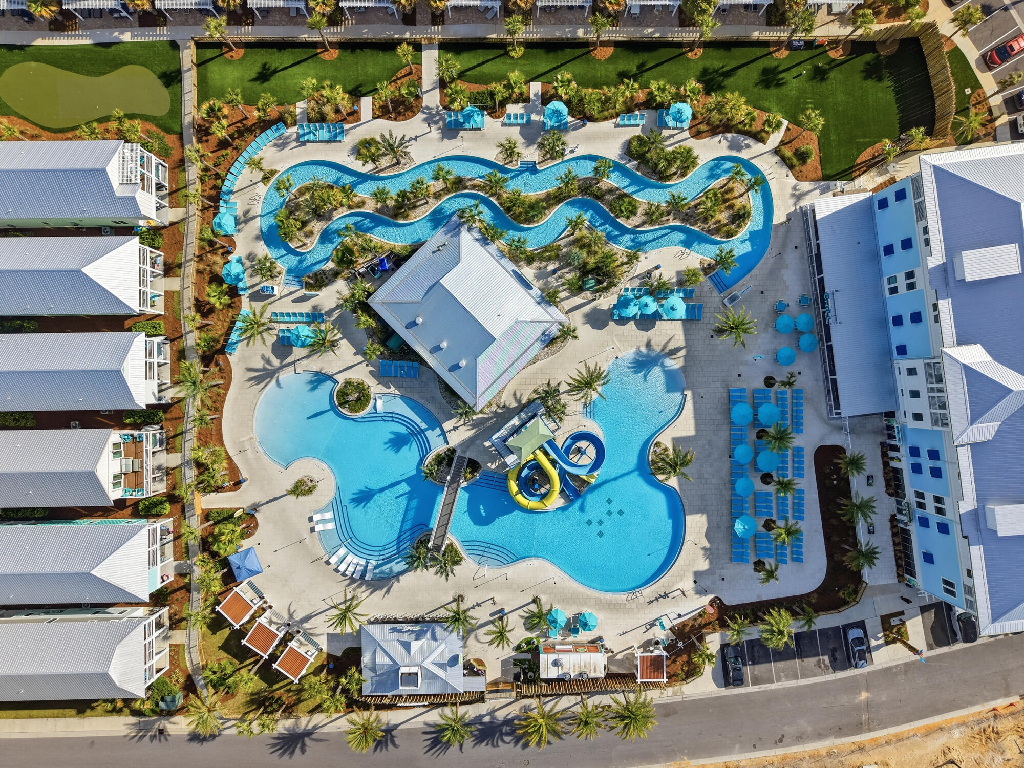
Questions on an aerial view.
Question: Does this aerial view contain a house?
Yes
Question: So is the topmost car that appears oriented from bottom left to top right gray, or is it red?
red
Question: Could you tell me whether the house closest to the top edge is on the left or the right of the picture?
left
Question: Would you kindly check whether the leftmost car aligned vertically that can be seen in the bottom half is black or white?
black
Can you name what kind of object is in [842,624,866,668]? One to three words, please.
car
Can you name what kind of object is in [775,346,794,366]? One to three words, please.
umbrella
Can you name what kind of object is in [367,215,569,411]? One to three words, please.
building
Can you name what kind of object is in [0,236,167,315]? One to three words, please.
house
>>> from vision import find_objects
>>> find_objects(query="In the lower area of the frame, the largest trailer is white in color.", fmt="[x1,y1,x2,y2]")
[539,645,604,680]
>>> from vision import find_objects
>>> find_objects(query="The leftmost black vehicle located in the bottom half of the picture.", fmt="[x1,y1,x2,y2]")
[721,642,742,686]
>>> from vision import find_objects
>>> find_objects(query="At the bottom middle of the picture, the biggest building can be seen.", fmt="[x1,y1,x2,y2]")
[360,616,486,696]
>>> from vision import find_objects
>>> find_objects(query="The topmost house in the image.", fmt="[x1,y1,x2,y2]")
[0,141,171,226]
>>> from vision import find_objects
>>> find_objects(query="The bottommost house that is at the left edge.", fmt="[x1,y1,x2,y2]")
[0,608,172,699]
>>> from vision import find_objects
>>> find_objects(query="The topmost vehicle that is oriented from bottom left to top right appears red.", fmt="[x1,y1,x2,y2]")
[988,32,1024,66]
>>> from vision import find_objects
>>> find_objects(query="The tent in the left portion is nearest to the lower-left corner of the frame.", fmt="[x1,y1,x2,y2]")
[228,542,271,582]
